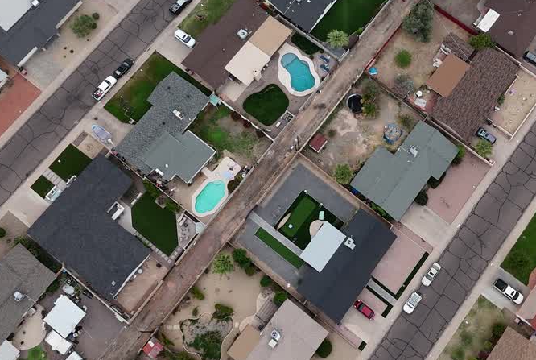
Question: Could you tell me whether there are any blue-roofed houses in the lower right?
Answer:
No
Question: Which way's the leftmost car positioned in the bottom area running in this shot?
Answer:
diagonally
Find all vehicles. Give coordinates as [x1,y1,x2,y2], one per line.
[402,290,421,315]
[421,262,440,287]
[114,58,134,78]
[524,52,536,67]
[493,280,522,304]
[353,299,375,321]
[476,127,497,145]
[92,76,117,101]
[169,0,192,15]
[175,29,195,48]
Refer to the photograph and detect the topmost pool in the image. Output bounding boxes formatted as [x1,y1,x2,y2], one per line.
[277,49,320,97]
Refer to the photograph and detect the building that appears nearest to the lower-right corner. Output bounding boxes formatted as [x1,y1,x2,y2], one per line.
[486,326,536,360]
